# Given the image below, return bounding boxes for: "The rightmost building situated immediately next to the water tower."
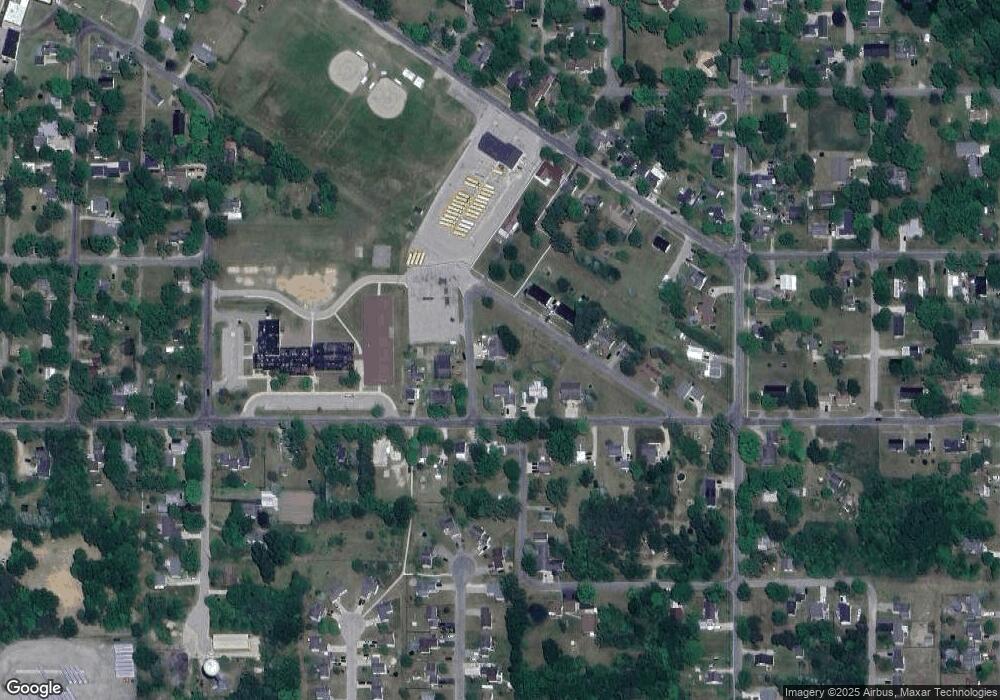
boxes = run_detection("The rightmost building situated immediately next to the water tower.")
[212,634,249,649]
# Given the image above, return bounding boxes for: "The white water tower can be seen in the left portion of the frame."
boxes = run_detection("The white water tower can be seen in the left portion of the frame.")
[200,660,231,689]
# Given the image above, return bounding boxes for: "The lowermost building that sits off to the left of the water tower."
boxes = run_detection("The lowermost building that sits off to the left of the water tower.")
[167,651,190,675]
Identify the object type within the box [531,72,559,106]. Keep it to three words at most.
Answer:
building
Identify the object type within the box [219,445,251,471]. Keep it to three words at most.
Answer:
building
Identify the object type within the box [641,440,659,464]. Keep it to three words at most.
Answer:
house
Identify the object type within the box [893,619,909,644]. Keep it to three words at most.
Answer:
house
